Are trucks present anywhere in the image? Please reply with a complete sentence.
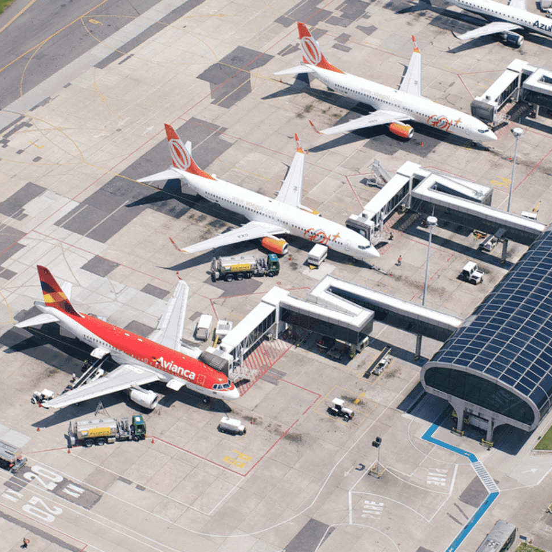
Yes, this view includes a truck.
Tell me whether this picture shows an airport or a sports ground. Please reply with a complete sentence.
It's an airport.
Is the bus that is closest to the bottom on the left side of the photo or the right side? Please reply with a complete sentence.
The bus that is closest to the bottom is on the right side of the image.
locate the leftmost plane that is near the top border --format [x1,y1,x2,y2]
[274,23,493,147]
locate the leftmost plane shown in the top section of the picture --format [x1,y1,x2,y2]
[135,124,377,263]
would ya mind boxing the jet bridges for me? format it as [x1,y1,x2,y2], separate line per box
[466,60,552,144]
[205,275,464,398]
[347,162,549,264]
